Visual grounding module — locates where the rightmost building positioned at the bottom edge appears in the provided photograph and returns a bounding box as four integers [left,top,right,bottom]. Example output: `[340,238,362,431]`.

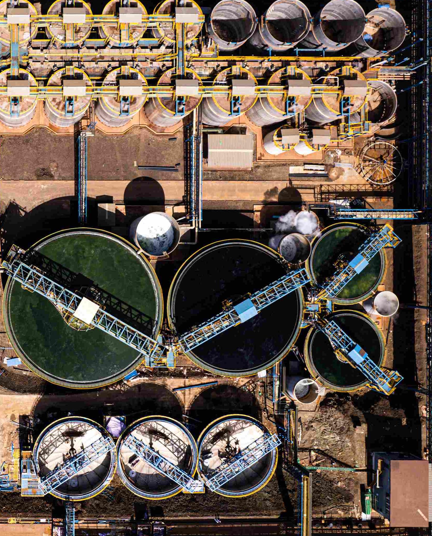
[364,447,425,527]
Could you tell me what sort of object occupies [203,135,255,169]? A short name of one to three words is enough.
building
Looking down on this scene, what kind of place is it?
industrial area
